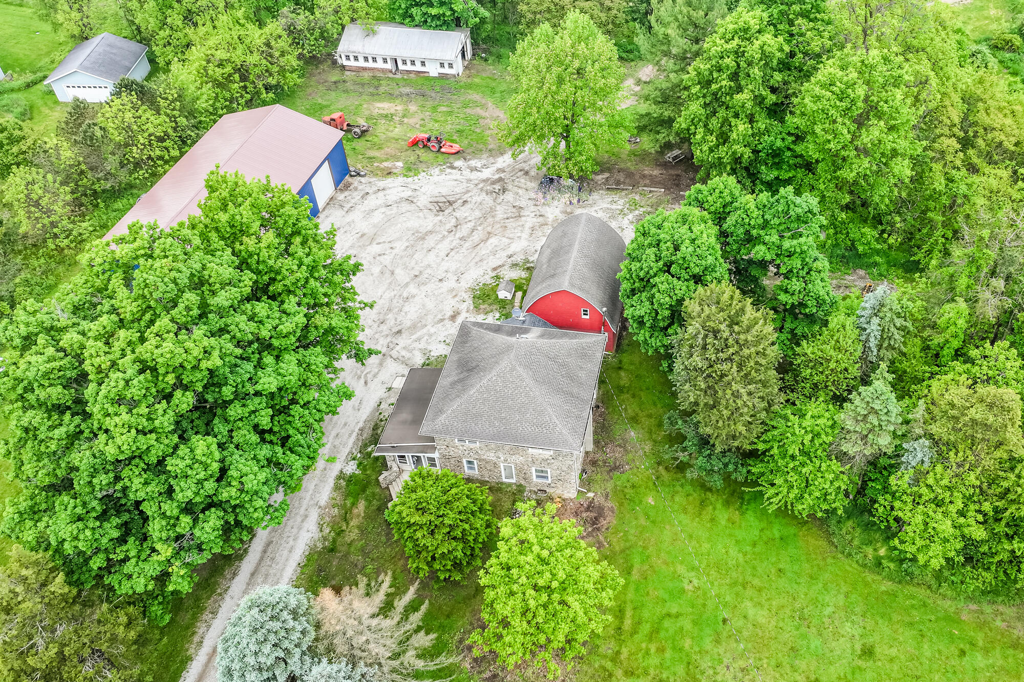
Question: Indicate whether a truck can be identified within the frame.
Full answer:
Yes, a truck is visible in the scene.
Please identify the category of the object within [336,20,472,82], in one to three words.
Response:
shed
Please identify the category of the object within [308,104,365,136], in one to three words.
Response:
truck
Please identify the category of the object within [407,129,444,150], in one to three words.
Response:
work vehicle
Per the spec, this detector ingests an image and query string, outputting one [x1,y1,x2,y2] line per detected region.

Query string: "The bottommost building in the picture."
[373,315,608,504]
